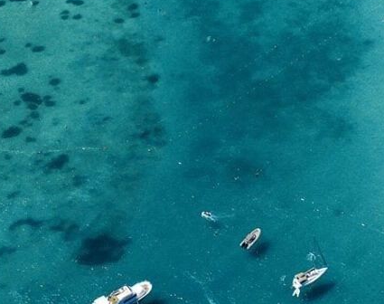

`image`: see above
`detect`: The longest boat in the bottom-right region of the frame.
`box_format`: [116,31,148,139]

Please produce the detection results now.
[291,233,326,290]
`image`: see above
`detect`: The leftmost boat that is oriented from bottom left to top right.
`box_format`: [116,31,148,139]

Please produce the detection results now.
[237,228,261,250]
